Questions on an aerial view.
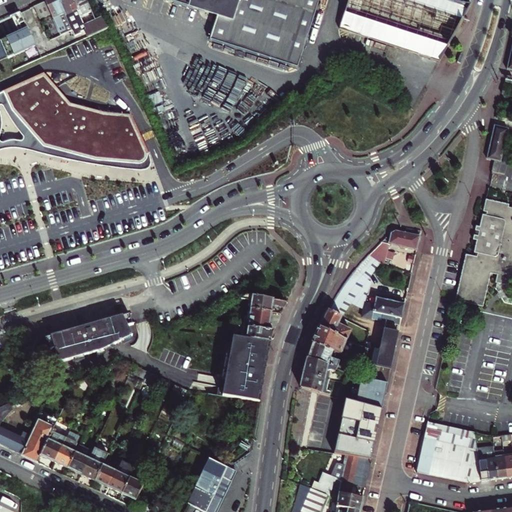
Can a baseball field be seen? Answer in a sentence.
No, I can't see a single baseball field in this photo.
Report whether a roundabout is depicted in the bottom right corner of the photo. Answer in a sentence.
No, there's no roundabout to be seen in the bottom right corner of the photo.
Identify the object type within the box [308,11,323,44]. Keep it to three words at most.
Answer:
vehicle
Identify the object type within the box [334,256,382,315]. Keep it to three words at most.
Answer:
shed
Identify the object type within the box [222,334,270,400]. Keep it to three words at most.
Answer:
building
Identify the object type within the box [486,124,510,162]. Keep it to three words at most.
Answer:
house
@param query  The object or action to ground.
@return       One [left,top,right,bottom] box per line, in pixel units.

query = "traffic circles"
[292,163,372,243]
